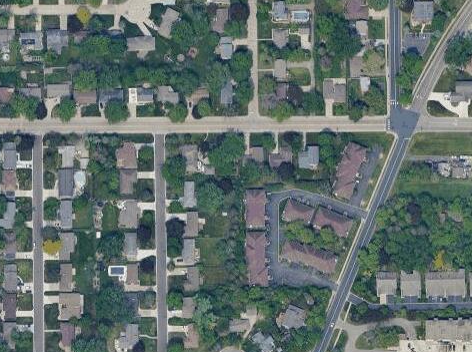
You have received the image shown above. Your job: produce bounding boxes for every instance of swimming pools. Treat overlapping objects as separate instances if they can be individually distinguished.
[108,266,127,276]
[291,11,310,22]
[74,172,85,183]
